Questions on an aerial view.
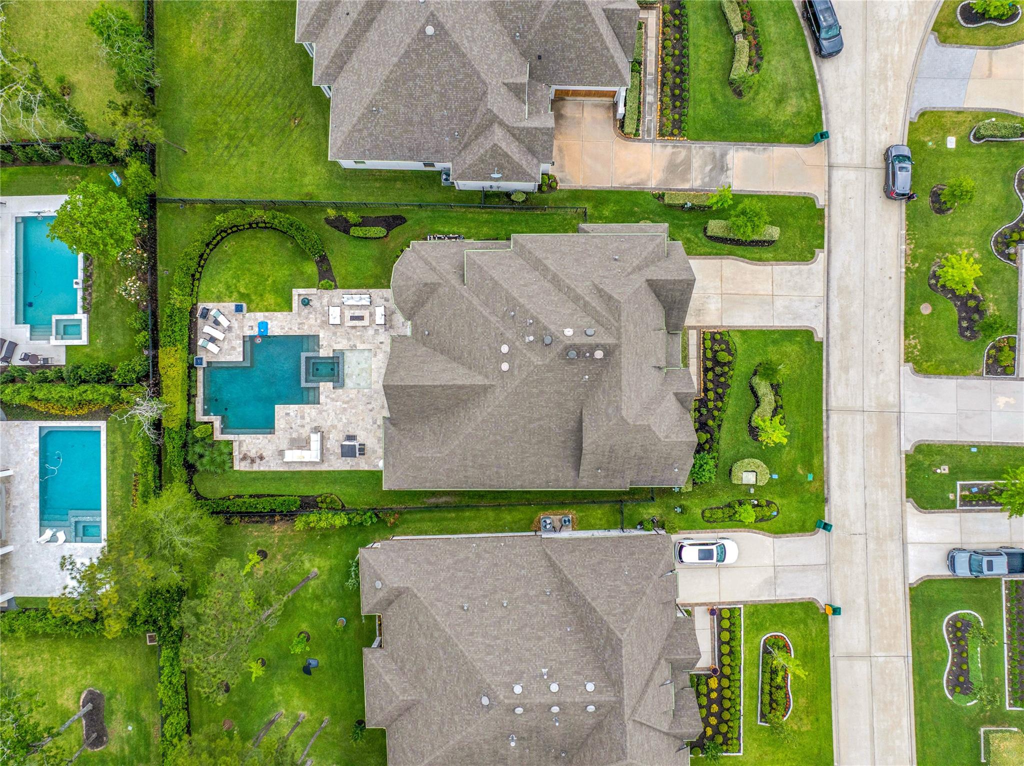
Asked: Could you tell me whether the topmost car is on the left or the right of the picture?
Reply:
right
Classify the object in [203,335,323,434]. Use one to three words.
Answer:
swimming pool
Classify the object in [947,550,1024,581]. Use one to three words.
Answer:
truck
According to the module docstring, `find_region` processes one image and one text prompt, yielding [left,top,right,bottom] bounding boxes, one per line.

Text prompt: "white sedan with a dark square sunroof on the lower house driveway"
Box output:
[678,540,736,568]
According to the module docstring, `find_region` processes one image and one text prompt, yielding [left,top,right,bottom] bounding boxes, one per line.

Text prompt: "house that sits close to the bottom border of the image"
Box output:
[358,521,703,766]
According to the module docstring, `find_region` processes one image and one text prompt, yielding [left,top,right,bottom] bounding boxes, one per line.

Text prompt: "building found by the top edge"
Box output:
[294,0,640,189]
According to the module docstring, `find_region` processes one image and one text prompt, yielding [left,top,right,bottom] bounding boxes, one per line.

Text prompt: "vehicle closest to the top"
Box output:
[801,0,842,50]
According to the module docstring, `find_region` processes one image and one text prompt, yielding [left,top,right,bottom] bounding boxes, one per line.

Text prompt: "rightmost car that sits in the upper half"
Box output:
[883,144,915,198]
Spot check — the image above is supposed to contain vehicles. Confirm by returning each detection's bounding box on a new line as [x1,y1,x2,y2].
[947,550,1024,581]
[801,0,842,50]
[678,540,736,568]
[883,144,915,198]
